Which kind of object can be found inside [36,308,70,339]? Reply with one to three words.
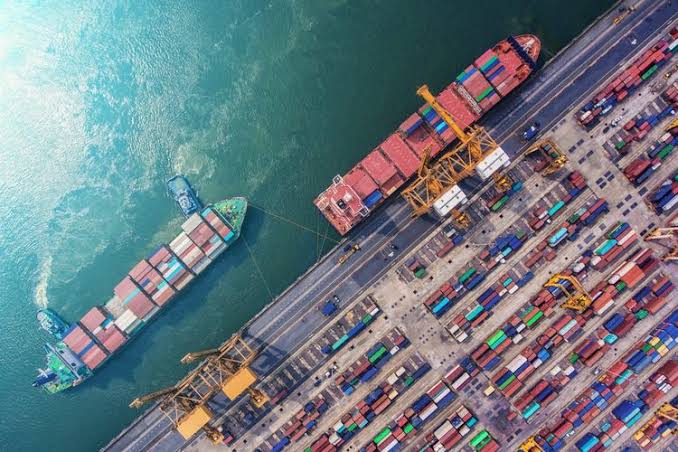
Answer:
boat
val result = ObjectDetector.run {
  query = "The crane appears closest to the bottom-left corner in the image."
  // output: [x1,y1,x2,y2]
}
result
[130,359,229,445]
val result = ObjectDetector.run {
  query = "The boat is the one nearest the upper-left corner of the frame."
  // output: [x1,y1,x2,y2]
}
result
[169,175,199,214]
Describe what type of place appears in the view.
port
